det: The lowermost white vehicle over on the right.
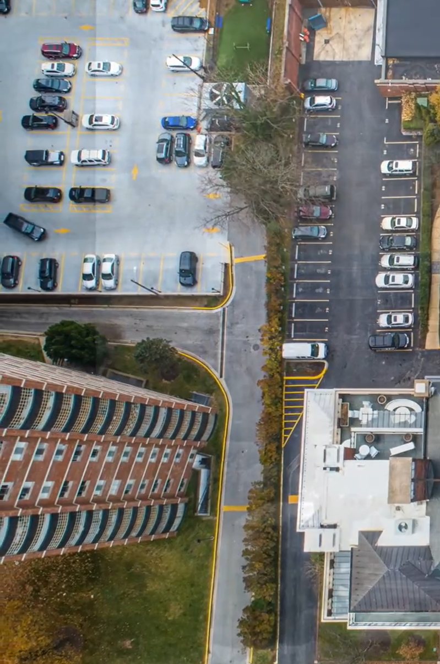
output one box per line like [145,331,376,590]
[282,343,325,359]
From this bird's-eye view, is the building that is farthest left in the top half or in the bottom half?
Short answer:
bottom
